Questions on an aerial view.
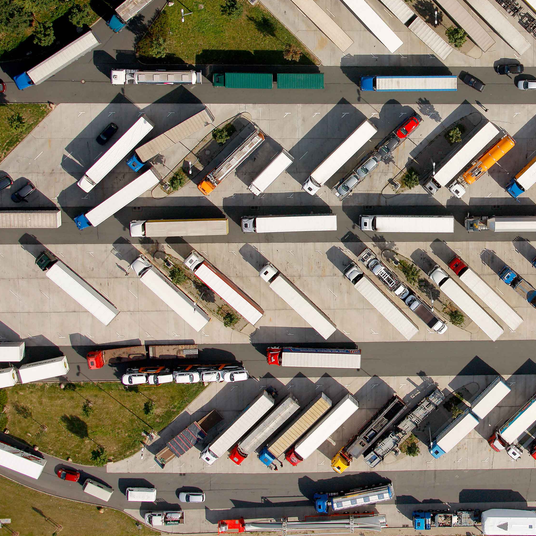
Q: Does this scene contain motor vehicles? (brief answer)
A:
Yes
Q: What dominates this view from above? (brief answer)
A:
paved ground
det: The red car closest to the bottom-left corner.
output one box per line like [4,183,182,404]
[56,467,81,482]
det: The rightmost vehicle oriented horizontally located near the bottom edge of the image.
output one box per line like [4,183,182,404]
[412,512,482,533]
